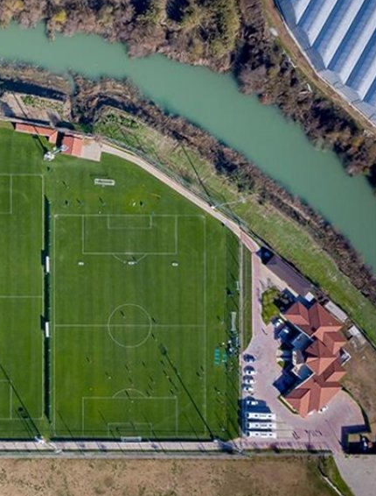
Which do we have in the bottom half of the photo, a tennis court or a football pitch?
football pitch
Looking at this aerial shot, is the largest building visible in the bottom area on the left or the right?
right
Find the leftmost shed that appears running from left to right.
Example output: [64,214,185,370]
[15,123,57,136]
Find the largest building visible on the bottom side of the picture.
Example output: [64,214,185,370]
[277,299,351,413]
